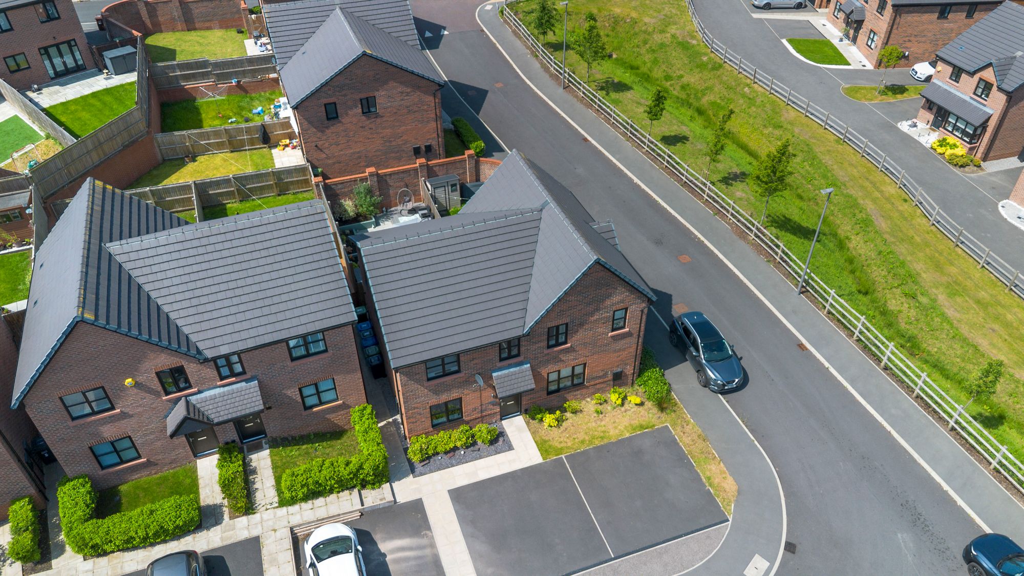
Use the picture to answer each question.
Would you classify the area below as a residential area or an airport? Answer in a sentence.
This looks like a residential area.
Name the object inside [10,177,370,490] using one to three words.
house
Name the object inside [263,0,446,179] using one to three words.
house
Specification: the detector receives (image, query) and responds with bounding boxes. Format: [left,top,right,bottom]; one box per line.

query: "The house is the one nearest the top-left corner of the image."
[0,0,96,96]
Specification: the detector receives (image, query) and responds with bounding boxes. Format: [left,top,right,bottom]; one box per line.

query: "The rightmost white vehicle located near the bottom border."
[299,517,370,576]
